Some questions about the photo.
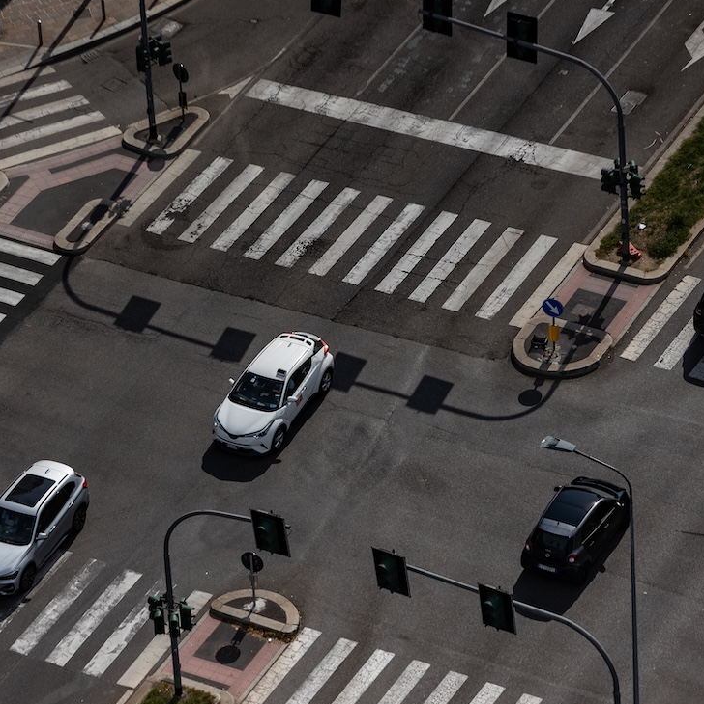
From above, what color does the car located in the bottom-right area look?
black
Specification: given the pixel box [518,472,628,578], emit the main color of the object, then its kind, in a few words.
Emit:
black car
